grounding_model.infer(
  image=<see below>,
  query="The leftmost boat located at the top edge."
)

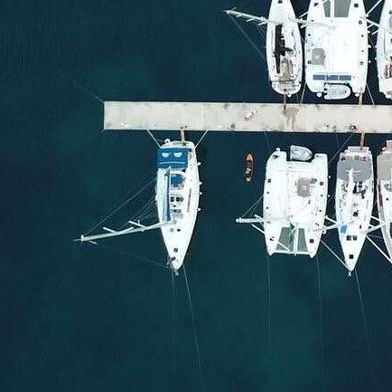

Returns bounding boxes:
[222,0,305,99]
